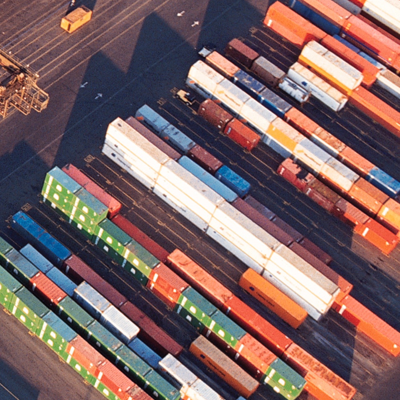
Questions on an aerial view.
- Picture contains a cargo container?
Yes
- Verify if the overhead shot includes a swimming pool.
No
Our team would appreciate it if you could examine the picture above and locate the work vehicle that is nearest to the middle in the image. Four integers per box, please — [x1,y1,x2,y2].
[174,81,202,106]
